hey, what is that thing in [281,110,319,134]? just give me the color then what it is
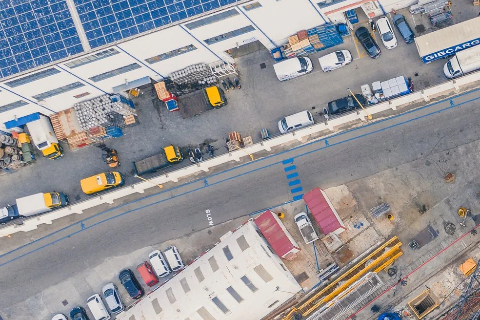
white vehicle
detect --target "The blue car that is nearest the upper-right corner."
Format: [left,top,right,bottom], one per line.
[393,12,414,47]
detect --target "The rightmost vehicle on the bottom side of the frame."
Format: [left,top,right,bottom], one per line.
[298,210,322,246]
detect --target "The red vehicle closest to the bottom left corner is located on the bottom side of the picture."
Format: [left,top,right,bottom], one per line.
[137,260,161,288]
